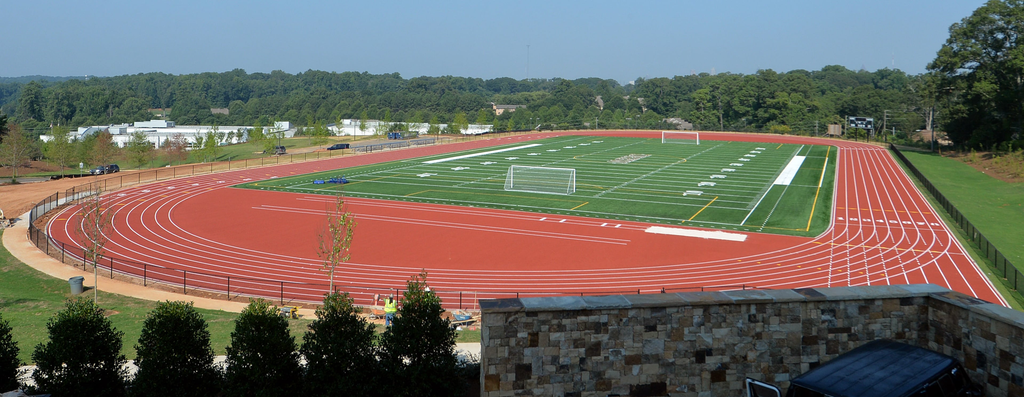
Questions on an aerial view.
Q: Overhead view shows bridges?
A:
No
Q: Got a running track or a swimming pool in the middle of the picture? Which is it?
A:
running track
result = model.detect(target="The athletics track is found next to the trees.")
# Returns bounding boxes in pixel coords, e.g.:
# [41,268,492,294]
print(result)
[45,131,1003,313]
